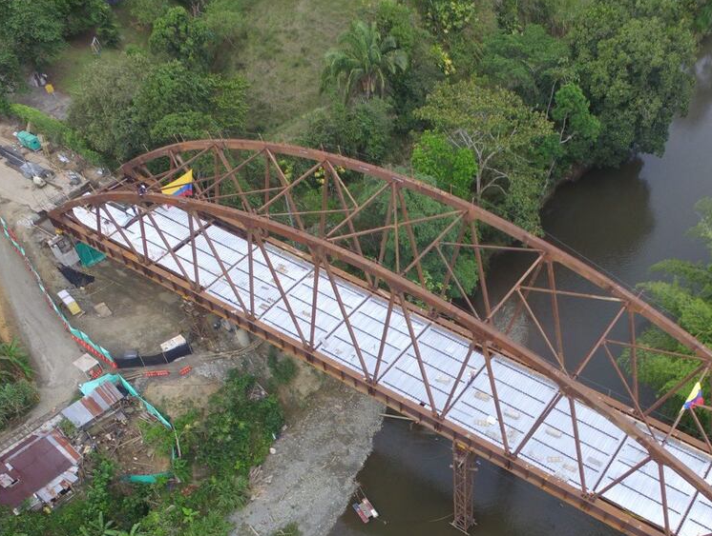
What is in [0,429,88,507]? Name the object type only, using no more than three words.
house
